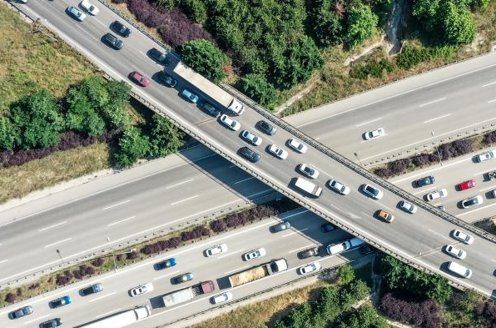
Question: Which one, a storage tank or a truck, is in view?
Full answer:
It is a truck that can be seen here.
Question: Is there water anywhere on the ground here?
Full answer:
No, no water is visible.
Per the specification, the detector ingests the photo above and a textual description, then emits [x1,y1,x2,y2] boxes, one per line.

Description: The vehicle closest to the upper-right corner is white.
[475,150,496,163]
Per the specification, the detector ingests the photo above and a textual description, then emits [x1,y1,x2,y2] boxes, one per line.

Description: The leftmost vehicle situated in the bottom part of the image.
[10,305,33,319]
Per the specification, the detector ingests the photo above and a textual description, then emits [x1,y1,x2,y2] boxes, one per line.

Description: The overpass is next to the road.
[90,16,489,287]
